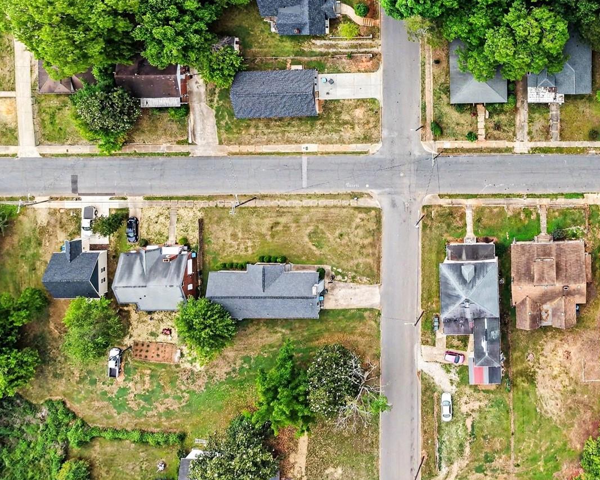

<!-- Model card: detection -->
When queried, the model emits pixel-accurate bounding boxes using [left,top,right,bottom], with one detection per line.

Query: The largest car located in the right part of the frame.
[440,392,453,421]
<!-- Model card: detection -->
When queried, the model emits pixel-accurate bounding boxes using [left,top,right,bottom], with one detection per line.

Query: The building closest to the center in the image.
[202,261,323,319]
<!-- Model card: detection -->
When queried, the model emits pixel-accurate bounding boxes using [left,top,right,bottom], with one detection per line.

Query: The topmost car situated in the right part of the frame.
[444,350,465,363]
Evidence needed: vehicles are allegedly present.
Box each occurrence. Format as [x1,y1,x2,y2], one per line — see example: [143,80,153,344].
[444,350,465,363]
[80,206,96,238]
[126,216,140,242]
[440,392,453,421]
[109,347,124,377]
